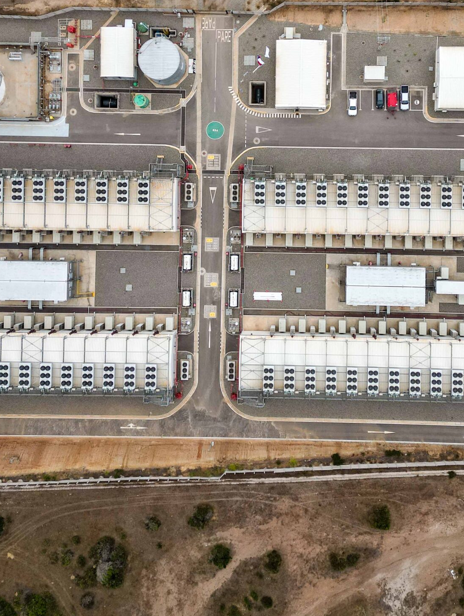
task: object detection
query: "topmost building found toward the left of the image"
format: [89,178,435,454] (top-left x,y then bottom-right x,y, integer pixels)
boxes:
[101,25,136,80]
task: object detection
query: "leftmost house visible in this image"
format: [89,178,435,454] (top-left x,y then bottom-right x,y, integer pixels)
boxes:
[0,247,74,310]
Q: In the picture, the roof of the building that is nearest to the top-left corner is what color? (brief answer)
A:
white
